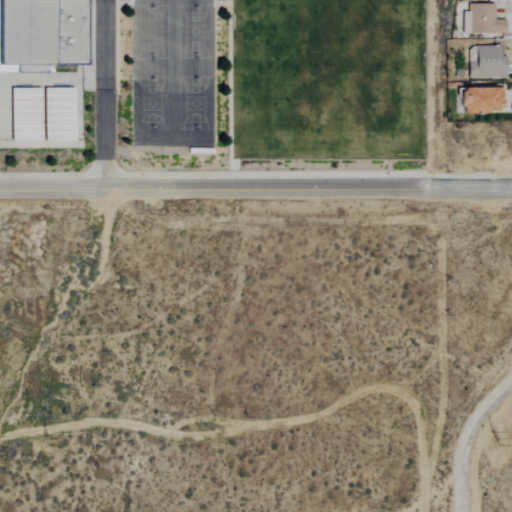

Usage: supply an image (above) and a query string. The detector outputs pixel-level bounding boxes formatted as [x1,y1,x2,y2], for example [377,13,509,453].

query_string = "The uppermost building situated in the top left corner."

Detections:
[4,0,92,65]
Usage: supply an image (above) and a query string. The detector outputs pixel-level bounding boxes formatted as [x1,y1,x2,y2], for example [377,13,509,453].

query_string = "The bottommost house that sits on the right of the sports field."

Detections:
[464,86,506,116]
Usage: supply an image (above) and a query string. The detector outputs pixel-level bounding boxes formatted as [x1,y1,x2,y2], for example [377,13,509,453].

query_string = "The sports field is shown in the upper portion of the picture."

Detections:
[234,0,425,159]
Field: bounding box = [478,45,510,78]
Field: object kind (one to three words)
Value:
house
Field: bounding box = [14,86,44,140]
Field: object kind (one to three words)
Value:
shed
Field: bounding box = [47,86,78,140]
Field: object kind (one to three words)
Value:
shed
